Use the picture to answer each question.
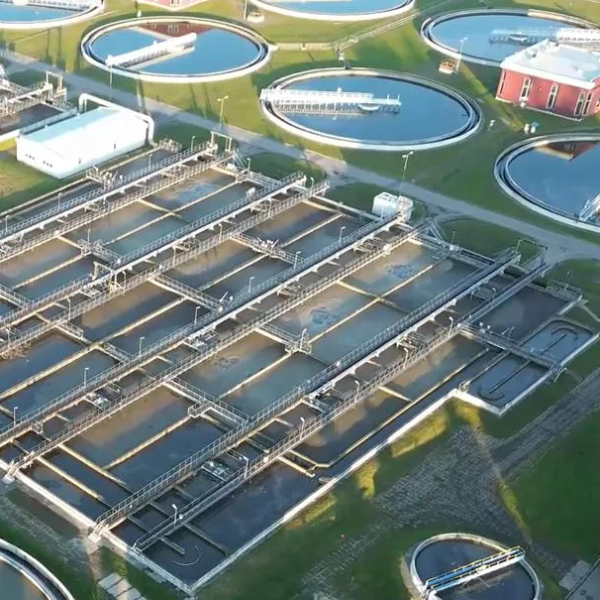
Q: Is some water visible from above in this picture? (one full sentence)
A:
Yes, water can be seen from above here.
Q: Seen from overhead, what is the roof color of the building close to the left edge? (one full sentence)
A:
The roof over the building close to the left edge appears white.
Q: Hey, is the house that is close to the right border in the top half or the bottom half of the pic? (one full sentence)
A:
Seen from above, the house that is close to the right border lies in the top half of the view.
